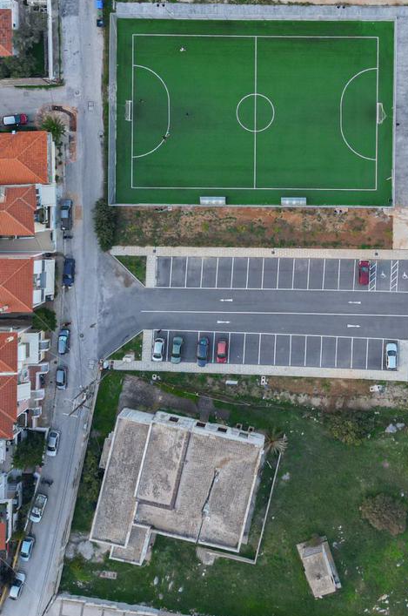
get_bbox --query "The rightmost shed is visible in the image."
[296,534,342,596]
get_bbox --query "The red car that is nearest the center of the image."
[215,337,228,361]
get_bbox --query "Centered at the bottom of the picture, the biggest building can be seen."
[88,409,267,566]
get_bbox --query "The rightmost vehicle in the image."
[385,342,398,369]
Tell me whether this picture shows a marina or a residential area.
residential area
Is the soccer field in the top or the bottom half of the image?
top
